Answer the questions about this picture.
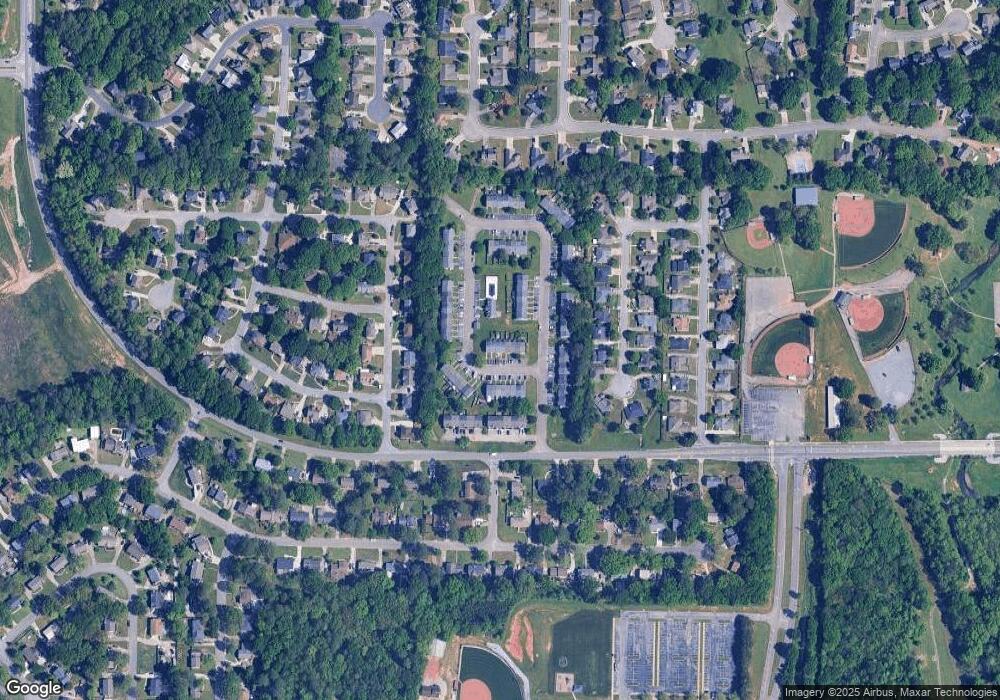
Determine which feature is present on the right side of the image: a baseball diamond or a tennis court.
baseball diamond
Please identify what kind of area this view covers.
residential area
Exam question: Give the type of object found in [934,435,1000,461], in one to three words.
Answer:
bridge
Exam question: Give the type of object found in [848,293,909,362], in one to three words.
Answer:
baseball field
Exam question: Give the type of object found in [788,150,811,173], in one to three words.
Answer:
basketball court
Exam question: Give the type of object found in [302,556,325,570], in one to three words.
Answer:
house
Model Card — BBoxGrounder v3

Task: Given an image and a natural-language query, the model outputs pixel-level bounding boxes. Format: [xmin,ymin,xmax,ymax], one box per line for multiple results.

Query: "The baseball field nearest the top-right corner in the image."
[838,194,908,269]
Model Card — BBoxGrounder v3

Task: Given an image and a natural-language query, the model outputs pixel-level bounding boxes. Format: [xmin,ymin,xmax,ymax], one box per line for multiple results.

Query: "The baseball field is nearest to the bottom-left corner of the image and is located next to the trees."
[461,645,523,700]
